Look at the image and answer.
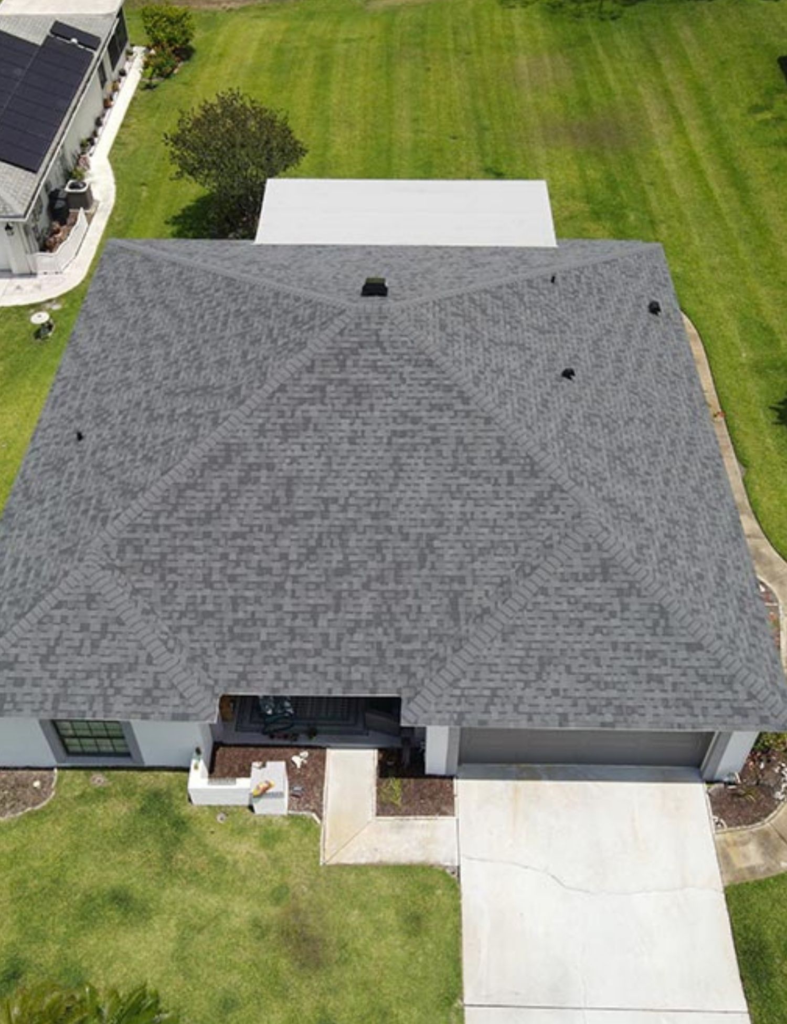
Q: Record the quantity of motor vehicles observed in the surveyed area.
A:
0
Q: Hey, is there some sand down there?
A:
No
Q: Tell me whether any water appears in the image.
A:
No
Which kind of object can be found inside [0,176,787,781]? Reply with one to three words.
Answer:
house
